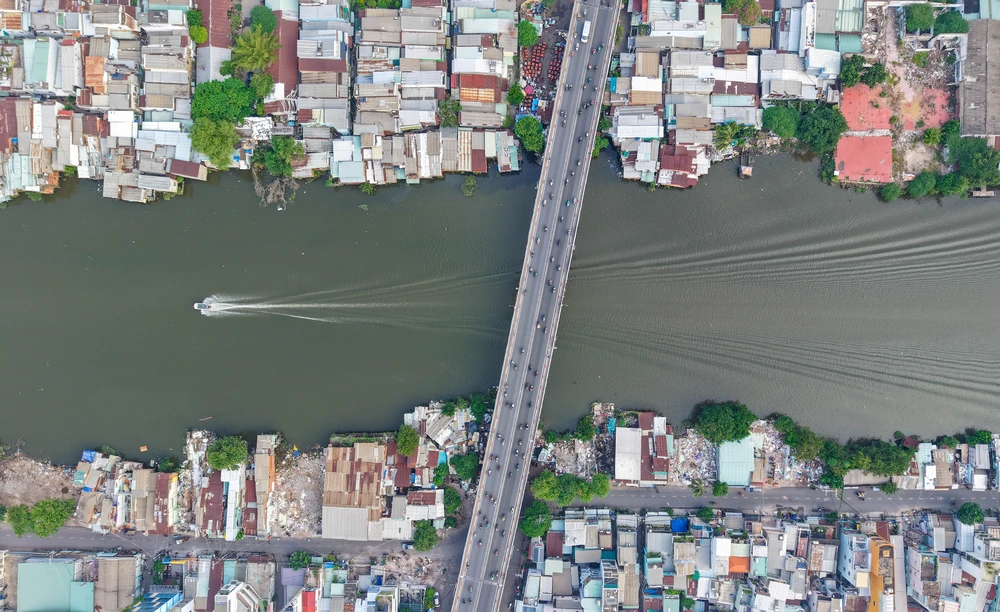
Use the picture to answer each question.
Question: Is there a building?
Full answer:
Yes, the picture does show a building.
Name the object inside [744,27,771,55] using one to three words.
house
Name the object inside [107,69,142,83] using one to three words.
house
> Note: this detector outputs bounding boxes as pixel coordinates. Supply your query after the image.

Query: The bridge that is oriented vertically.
[450,0,622,612]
